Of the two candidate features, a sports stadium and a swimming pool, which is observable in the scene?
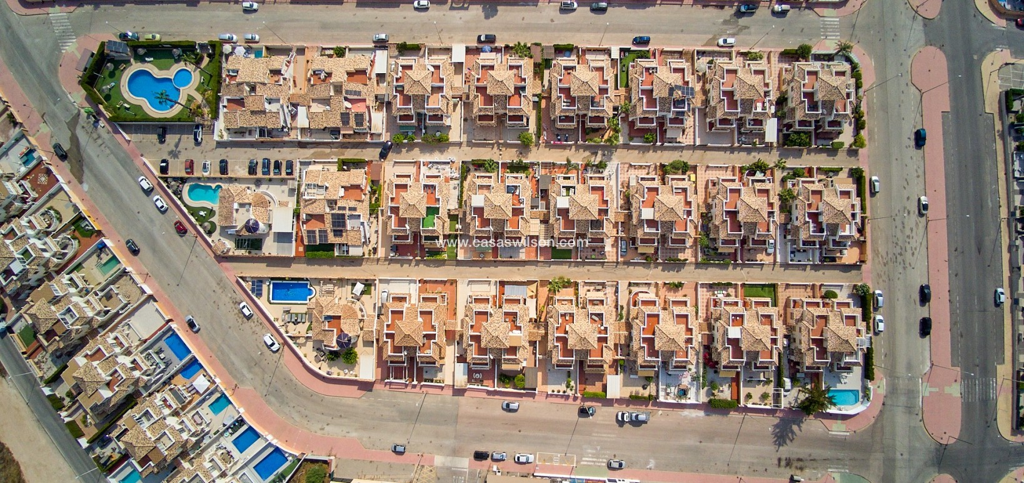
swimming pool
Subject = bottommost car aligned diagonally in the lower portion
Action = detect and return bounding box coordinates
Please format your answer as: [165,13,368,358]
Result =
[95,433,113,449]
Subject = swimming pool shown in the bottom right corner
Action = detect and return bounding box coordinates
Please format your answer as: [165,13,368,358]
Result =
[828,389,860,406]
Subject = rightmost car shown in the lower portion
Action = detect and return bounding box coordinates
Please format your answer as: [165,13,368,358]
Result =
[992,289,1006,305]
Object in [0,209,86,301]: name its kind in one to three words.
house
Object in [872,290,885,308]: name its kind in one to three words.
vehicle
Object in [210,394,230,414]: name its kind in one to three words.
swimming pool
